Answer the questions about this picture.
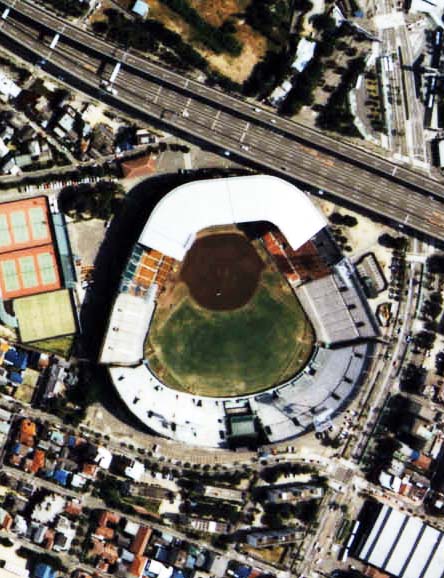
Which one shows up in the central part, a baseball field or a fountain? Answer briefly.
baseball field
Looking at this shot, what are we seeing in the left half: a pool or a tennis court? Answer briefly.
tennis court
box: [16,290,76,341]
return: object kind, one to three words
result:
tennis court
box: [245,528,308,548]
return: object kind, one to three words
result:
building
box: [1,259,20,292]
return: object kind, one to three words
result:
tennis court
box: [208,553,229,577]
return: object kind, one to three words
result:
house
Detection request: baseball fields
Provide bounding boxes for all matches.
[143,225,319,402]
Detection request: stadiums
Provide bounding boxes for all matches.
[100,176,382,450]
